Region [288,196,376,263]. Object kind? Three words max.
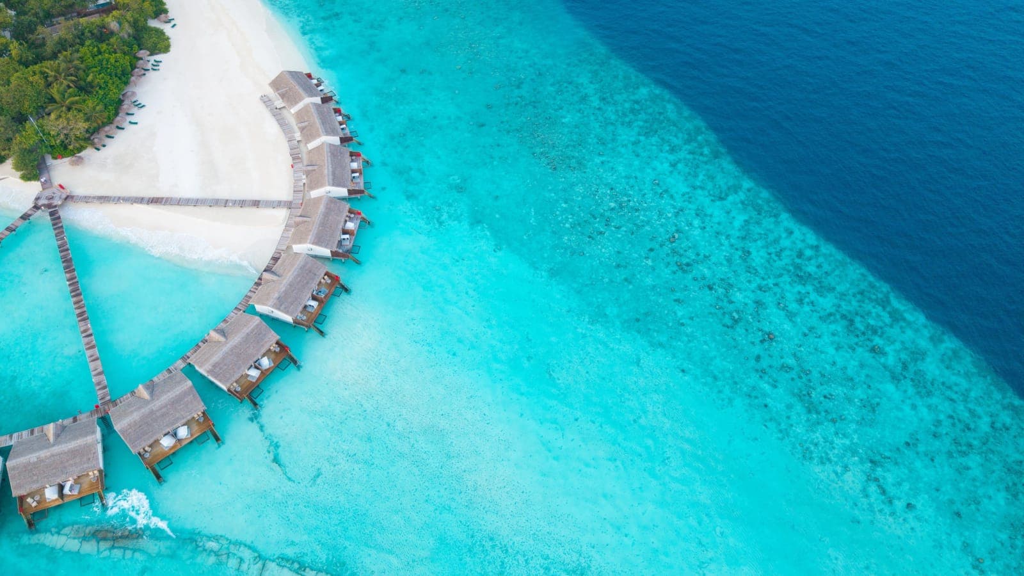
house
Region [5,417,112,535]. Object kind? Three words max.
house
